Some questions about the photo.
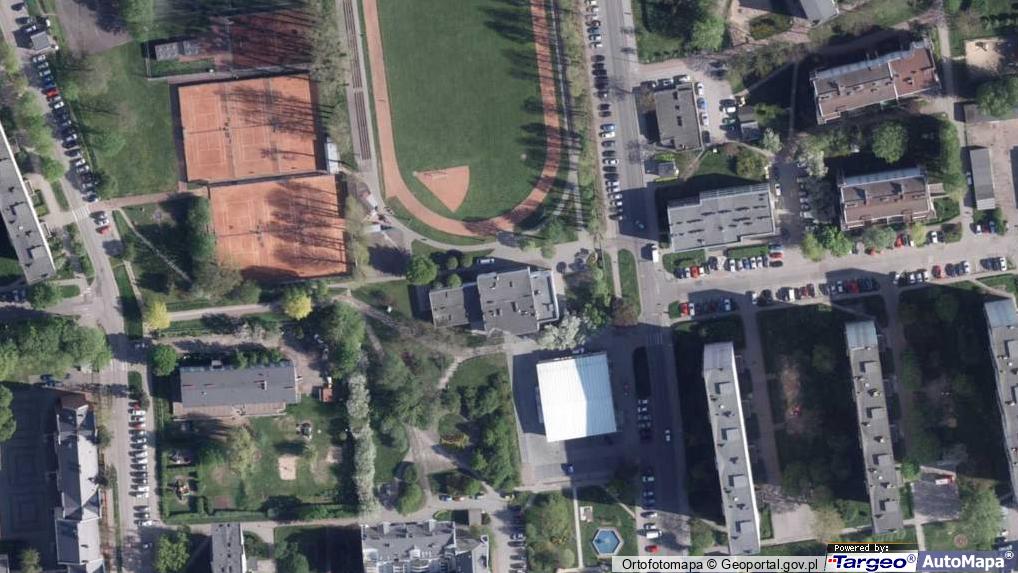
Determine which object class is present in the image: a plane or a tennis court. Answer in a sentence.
Visible in the photo is a tennis court.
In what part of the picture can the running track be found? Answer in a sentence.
You can find the running track in the top area of the picture.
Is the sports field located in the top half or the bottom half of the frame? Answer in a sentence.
The sports field sits in the top half of the picture.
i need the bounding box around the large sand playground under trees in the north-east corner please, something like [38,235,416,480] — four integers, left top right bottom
[965,37,1011,75]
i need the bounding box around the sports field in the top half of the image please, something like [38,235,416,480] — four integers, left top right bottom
[379,0,546,220]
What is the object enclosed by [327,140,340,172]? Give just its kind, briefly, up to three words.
shed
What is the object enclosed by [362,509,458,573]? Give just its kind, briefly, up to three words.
building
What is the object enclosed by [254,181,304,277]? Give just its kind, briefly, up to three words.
tennis court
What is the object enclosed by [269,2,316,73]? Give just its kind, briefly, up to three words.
tennis court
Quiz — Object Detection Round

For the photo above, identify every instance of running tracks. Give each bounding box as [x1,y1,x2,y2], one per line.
[362,0,561,237]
